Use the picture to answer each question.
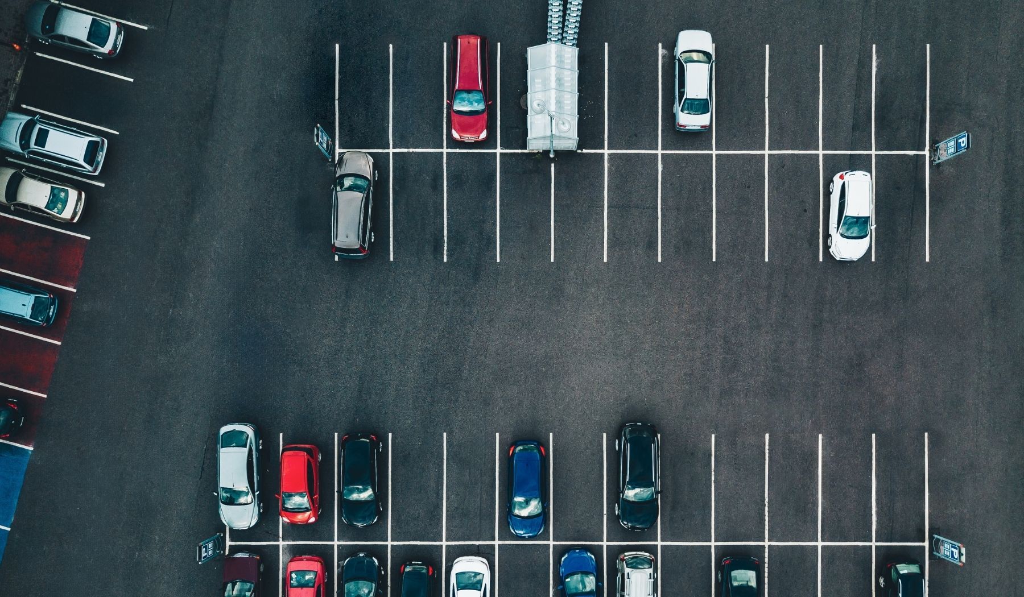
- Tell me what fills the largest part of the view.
paved ground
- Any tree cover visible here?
No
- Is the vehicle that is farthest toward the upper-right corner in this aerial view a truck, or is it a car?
car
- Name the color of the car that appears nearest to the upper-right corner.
white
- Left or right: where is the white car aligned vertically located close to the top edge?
right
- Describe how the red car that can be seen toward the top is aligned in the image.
from top to bottom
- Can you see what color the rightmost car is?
black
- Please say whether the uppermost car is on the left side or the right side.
left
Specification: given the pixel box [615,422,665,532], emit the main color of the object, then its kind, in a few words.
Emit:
black car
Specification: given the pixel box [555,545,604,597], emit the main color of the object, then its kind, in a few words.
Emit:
blue car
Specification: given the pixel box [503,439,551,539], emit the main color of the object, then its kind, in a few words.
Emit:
blue car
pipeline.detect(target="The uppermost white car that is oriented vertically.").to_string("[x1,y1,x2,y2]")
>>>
[673,29,720,133]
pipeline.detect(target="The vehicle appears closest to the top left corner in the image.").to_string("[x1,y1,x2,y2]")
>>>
[22,0,126,55]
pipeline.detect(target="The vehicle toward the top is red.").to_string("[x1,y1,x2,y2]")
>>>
[445,33,493,143]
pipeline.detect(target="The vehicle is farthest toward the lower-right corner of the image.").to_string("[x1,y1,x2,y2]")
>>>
[881,558,930,597]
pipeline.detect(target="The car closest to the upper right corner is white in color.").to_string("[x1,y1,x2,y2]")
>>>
[825,170,879,261]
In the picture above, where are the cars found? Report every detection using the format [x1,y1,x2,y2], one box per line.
[335,551,384,597]
[555,545,604,597]
[0,276,62,327]
[0,109,109,173]
[284,553,328,597]
[214,549,264,597]
[825,170,879,261]
[334,433,382,529]
[450,554,490,597]
[503,439,551,539]
[397,561,436,597]
[22,0,126,55]
[615,422,665,532]
[445,33,493,143]
[326,150,376,259]
[720,554,763,597]
[673,29,720,133]
[617,550,658,597]
[272,443,321,525]
[0,163,86,220]
[210,422,263,529]
[881,558,930,597]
